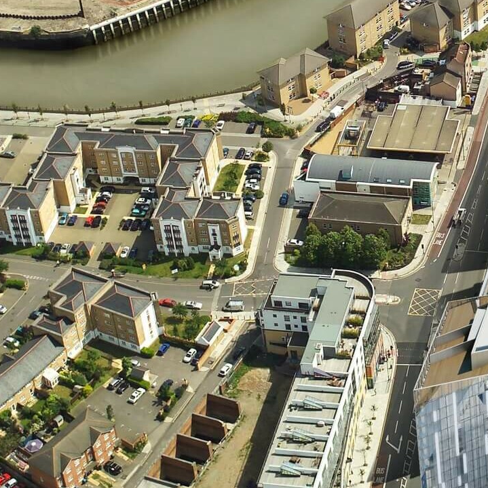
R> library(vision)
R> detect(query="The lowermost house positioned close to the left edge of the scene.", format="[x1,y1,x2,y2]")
[24,409,122,488]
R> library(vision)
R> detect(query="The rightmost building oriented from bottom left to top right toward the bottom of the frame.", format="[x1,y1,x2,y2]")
[192,318,228,353]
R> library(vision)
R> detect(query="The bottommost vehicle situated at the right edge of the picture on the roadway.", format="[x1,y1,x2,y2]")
[451,203,466,224]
